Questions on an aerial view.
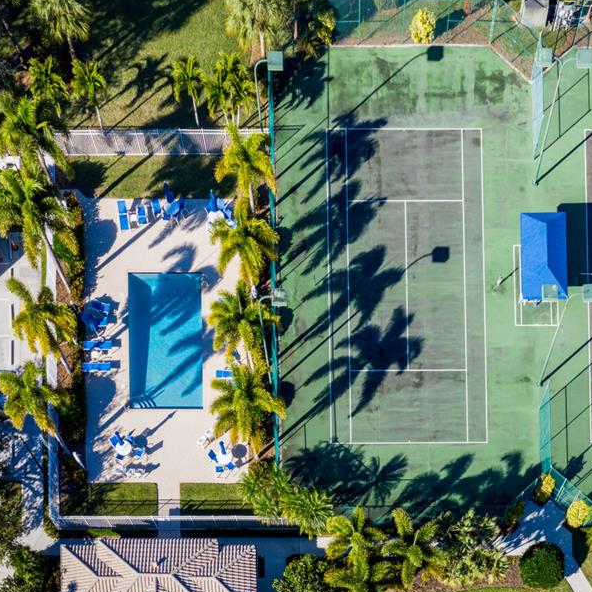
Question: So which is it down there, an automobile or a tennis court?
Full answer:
The image shows a tennis court.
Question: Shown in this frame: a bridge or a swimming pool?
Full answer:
Looking from above, you can make out a swimming pool.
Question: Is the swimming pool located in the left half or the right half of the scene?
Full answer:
The swimming pool appears in the left half of the scene.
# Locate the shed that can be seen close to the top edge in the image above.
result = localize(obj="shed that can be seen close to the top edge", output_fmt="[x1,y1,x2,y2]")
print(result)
[519,0,548,40]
